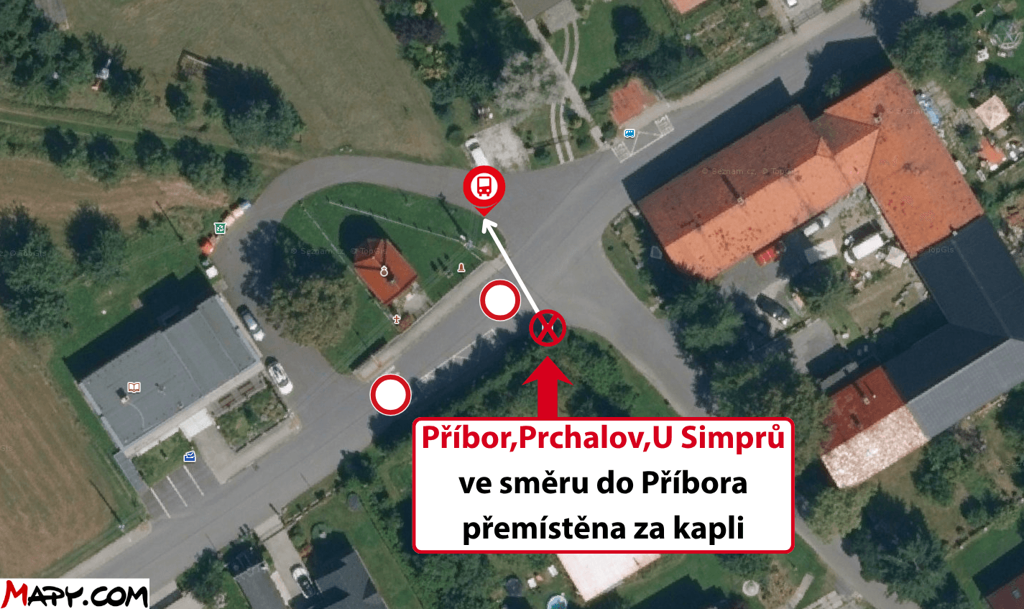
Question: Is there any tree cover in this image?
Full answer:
Yes, there's tree cover in this view.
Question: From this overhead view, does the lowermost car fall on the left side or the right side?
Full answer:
You can find the lowermost car on the left side of the picture.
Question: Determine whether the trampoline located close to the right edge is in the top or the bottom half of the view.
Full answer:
You can find the trampoline located close to the right edge in the top half.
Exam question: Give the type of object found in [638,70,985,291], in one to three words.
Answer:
house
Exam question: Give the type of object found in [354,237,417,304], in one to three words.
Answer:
building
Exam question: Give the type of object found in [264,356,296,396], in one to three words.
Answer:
car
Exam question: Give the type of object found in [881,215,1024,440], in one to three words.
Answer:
barn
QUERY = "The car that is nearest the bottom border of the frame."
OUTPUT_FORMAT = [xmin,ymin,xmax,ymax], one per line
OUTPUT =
[289,561,320,601]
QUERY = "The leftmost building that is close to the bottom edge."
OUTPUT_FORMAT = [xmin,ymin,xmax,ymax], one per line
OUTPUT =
[234,561,286,609]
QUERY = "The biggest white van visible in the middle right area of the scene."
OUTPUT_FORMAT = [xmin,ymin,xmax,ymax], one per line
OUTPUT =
[842,229,889,264]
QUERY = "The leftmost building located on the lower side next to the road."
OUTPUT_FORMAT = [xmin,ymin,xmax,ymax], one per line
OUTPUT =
[75,294,259,455]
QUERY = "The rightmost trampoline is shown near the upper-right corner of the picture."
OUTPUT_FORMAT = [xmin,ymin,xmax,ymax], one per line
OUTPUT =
[996,19,1024,48]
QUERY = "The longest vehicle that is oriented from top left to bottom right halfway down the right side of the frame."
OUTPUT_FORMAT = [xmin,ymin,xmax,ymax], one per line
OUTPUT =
[754,293,794,326]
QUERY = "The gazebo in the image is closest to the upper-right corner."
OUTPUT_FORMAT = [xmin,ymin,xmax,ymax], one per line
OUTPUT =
[975,95,1011,130]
